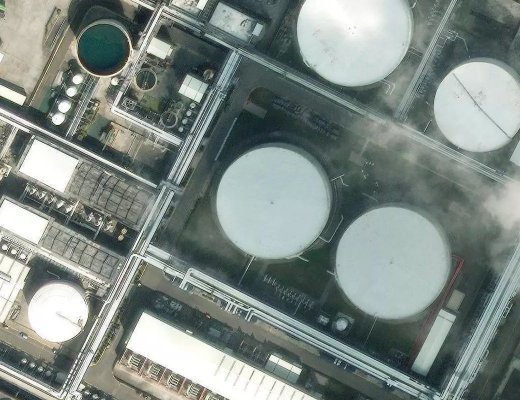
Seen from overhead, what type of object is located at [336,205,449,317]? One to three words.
storage tank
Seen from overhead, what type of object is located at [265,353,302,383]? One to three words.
shed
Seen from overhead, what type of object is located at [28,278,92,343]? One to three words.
storage tank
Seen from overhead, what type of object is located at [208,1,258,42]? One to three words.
building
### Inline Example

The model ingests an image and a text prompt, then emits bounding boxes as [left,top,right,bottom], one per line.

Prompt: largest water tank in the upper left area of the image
[76,12,140,77]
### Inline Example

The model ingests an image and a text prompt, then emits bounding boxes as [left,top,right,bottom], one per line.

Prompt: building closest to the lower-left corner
[0,250,32,323]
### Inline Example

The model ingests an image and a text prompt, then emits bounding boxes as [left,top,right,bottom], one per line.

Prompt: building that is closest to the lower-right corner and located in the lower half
[411,309,457,375]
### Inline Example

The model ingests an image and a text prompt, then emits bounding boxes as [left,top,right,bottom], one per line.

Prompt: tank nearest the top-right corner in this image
[433,59,520,152]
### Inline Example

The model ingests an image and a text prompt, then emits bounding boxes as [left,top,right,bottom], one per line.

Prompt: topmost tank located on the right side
[297,0,412,86]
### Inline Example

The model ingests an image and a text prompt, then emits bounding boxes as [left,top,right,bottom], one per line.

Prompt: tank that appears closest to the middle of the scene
[217,144,330,257]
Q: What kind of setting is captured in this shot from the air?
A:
industrial area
